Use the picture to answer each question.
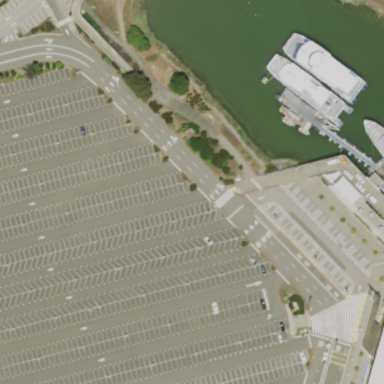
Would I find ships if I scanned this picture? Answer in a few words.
Yes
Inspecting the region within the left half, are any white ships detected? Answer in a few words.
No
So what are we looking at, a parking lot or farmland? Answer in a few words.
parking lot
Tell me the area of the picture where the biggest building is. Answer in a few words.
right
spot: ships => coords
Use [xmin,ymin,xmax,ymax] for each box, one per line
[266,54,354,130]
[364,119,384,158]
[283,32,366,102]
